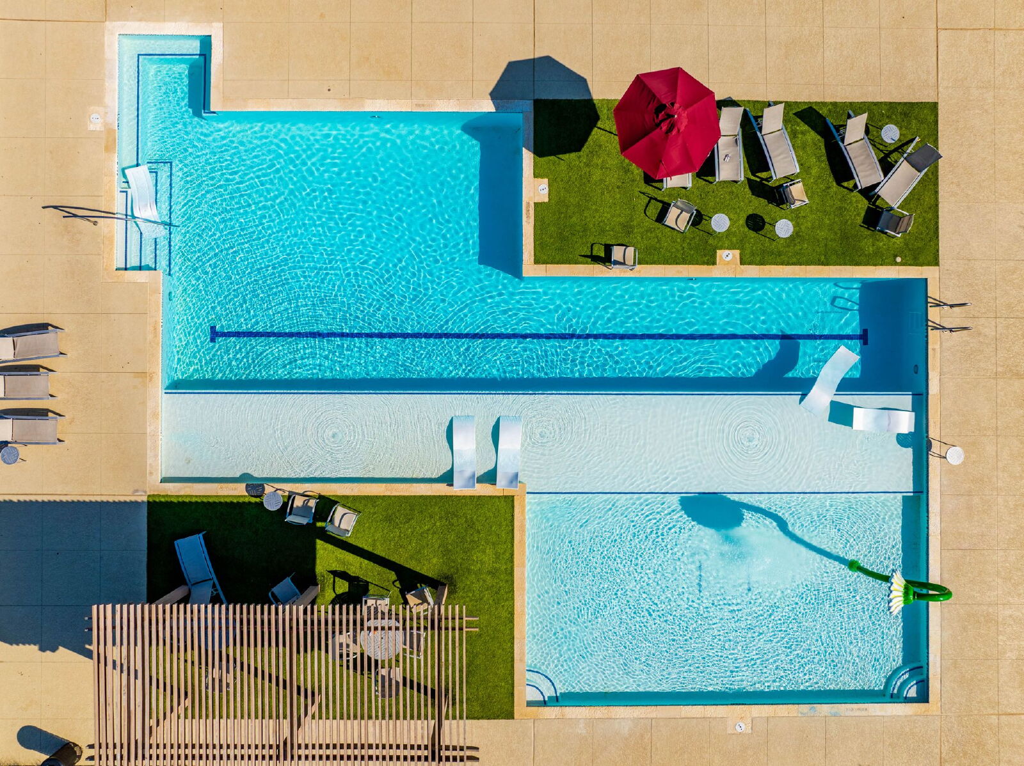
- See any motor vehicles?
No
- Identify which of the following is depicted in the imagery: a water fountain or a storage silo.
water fountain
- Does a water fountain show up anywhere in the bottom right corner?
Yes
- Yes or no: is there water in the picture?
Yes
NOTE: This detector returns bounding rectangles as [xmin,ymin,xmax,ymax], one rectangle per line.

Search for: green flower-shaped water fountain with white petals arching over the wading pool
[851,562,956,621]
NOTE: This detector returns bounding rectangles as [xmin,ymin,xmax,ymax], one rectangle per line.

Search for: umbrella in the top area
[614,67,720,180]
